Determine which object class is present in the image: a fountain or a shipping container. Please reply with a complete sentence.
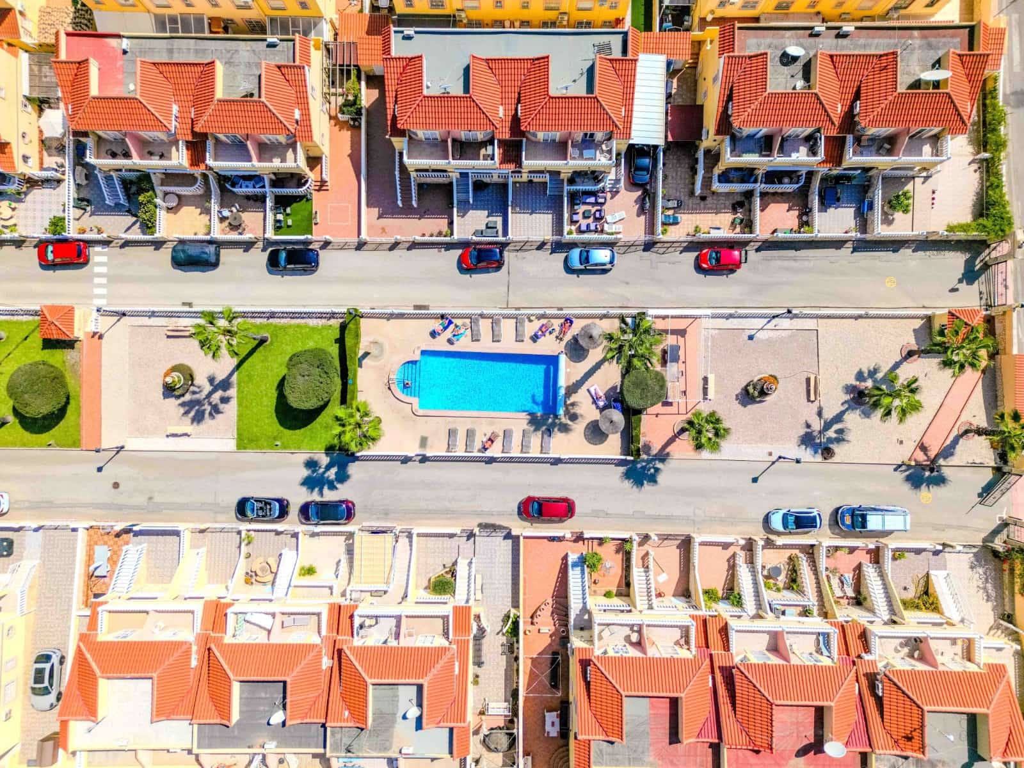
Of the two, only a fountain appears.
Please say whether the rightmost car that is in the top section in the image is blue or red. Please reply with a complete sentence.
In this view, the rightmost car that is in the top section is red.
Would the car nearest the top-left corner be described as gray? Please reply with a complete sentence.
No, the car nearest the top-left corner is actually red.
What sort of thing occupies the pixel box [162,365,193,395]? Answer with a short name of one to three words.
fountain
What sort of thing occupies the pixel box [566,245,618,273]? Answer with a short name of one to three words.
car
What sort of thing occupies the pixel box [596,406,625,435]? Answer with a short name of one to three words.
umbrella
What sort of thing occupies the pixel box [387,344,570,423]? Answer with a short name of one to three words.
swimming pool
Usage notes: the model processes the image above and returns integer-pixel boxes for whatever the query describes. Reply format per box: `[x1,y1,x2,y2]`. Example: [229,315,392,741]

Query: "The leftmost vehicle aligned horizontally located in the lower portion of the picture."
[232,497,288,524]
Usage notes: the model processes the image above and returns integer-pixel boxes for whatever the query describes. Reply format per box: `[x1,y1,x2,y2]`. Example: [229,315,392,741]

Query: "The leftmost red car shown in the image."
[33,239,86,266]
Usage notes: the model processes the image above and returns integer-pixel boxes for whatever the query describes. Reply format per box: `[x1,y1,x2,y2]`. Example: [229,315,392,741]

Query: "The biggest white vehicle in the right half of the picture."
[840,504,919,534]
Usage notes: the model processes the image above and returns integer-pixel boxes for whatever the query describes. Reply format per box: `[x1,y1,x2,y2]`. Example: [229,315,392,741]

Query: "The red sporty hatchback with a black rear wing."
[700,246,754,272]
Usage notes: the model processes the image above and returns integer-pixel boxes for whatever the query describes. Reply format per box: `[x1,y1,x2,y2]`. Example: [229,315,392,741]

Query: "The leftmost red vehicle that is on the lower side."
[520,496,576,524]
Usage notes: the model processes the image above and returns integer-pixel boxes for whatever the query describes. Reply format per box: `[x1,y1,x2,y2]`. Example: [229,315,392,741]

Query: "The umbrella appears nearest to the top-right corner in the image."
[575,322,603,350]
